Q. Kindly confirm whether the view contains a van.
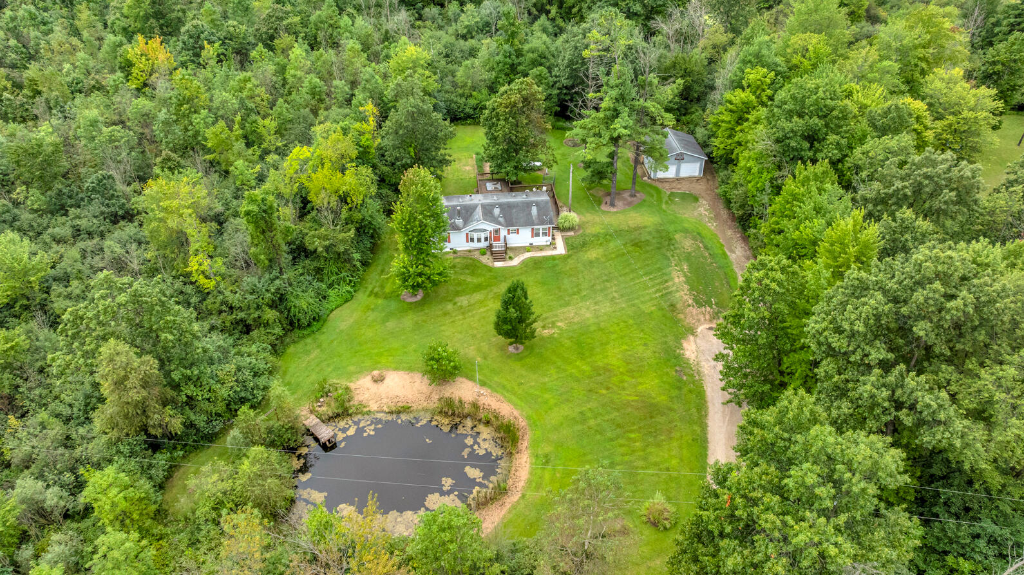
No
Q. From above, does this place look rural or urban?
rural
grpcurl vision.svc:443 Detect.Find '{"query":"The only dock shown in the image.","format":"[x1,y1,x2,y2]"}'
[303,415,336,445]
